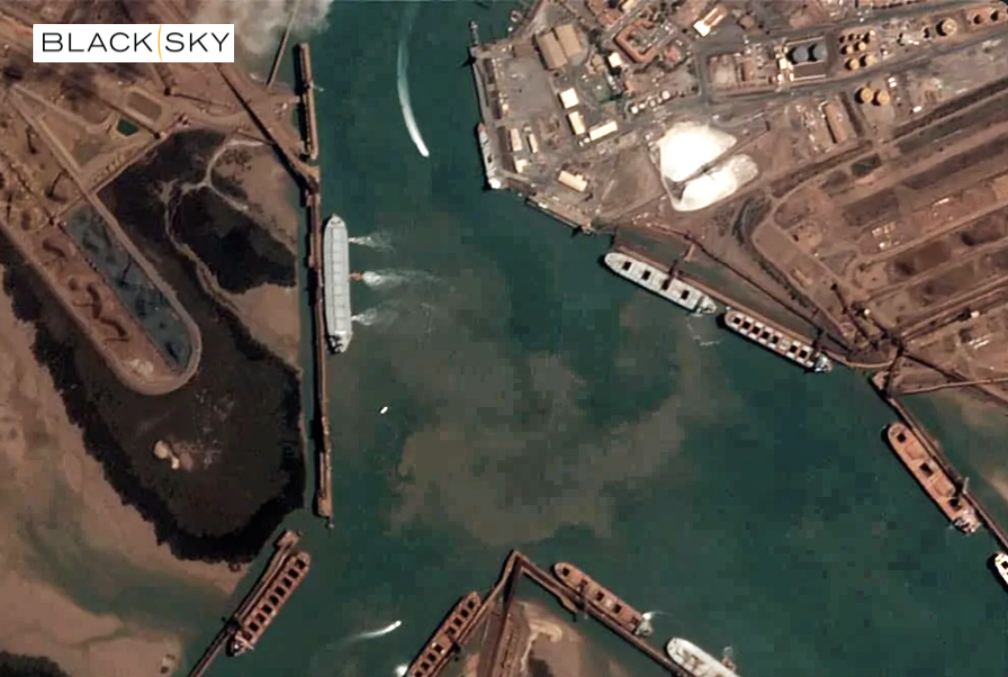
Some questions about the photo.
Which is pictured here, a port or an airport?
port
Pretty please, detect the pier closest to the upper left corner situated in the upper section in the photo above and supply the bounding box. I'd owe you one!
[300,43,318,156]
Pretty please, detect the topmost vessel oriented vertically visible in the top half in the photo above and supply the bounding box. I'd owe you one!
[476,122,502,193]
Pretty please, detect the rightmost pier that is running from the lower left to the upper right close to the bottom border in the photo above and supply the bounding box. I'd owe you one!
[431,553,515,677]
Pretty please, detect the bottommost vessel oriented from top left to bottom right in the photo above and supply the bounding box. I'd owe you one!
[666,637,737,677]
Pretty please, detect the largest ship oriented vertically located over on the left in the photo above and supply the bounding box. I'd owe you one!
[323,214,351,354]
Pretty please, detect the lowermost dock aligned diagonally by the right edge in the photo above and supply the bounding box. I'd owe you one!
[882,390,1008,550]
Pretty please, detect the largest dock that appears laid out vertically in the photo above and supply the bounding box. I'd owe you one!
[313,176,333,515]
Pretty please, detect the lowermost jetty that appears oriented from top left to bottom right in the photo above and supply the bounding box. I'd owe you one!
[515,550,692,677]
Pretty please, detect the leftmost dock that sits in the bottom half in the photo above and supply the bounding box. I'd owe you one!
[227,540,290,623]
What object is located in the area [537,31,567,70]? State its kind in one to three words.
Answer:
building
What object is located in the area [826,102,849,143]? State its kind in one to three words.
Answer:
building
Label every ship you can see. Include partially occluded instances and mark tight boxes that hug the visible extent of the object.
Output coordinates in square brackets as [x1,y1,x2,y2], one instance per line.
[402,589,479,677]
[602,250,719,314]
[891,419,980,535]
[476,122,502,193]
[554,563,652,638]
[323,214,351,354]
[230,550,312,659]
[994,550,1008,585]
[666,637,737,677]
[724,310,835,372]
